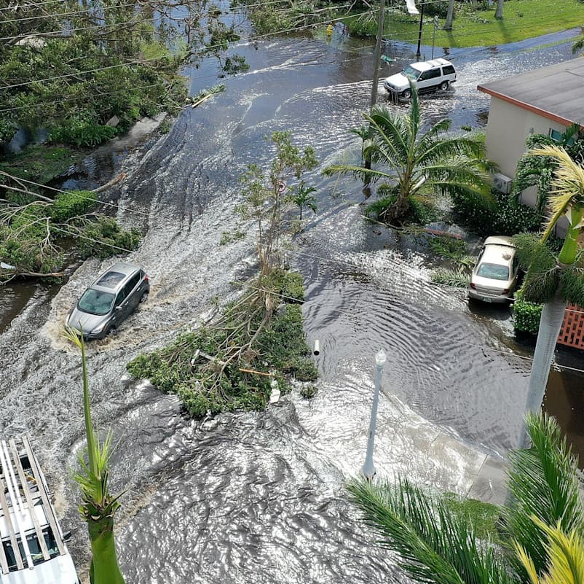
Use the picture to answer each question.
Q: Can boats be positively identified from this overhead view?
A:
No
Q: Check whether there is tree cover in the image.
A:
Yes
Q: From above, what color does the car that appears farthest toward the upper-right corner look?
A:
white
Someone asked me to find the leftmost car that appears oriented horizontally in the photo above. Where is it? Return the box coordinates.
[380,52,463,98]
